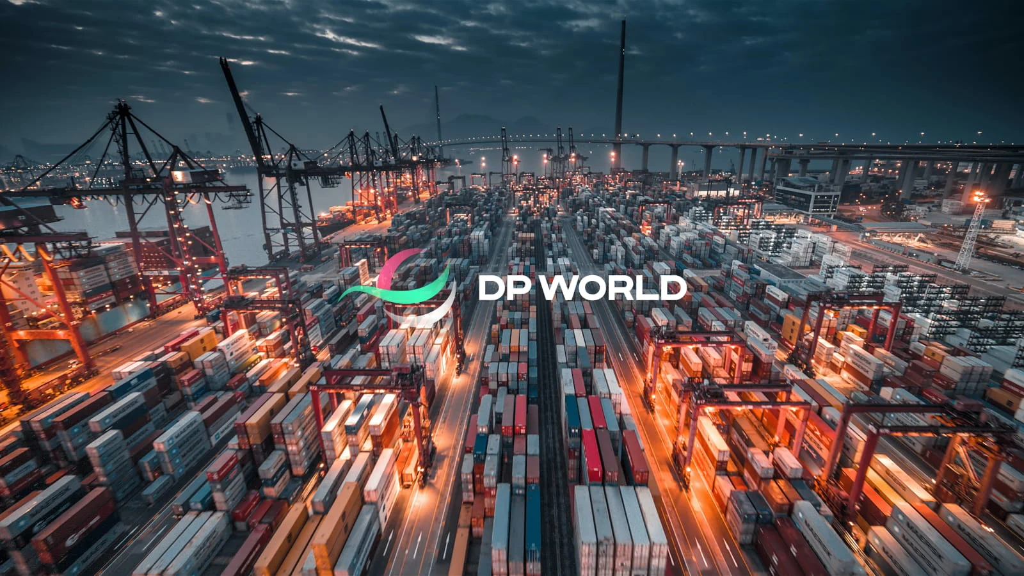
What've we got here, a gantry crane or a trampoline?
gantry crane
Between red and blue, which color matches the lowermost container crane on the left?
red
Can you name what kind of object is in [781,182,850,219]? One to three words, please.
building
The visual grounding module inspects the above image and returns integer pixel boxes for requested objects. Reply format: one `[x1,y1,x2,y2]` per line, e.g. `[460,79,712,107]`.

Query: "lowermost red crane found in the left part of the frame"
[297,377,436,495]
